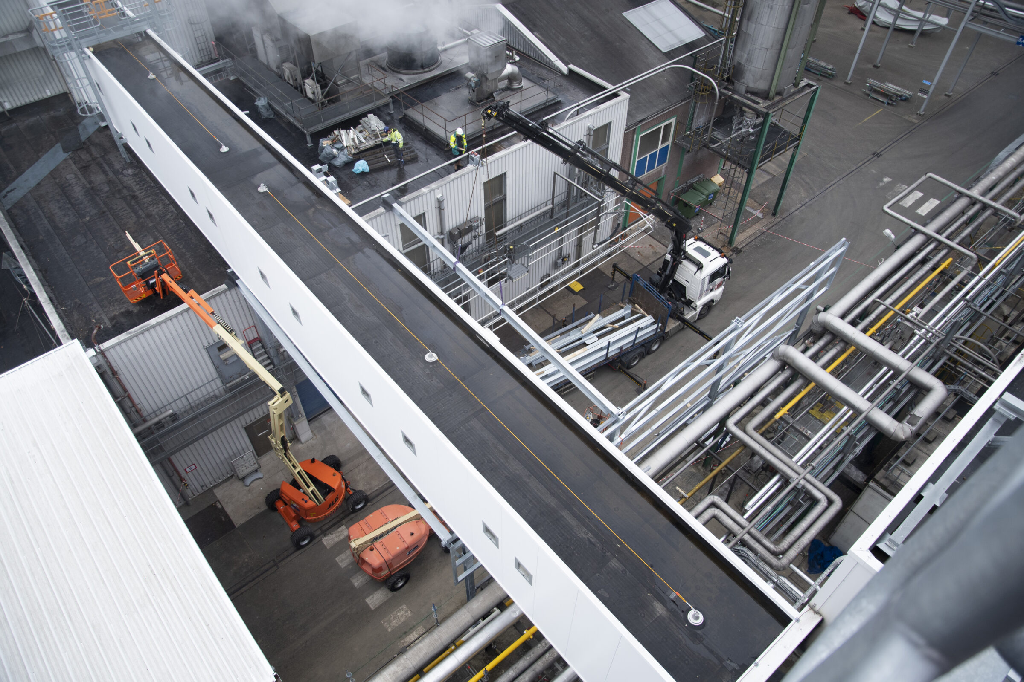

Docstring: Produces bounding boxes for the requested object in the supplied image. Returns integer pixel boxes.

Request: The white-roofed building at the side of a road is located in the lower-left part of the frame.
[0,338,290,682]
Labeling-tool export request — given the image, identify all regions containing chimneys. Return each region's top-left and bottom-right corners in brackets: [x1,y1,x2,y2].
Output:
[375,2,445,77]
